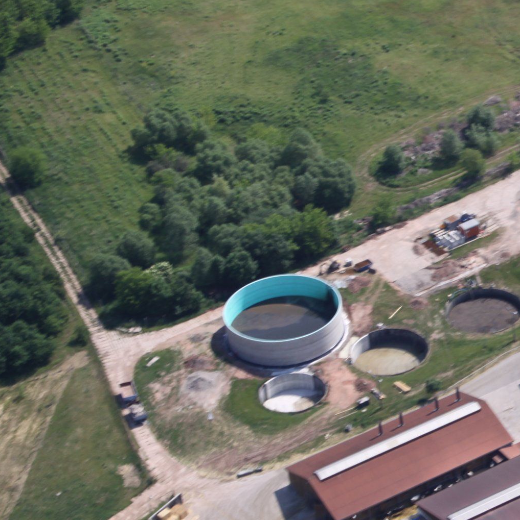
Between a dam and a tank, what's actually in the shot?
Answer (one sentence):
It is a tank that can be seen here.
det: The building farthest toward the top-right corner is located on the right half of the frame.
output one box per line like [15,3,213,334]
[460,218,484,237]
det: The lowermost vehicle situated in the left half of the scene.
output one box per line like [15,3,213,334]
[126,399,147,428]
